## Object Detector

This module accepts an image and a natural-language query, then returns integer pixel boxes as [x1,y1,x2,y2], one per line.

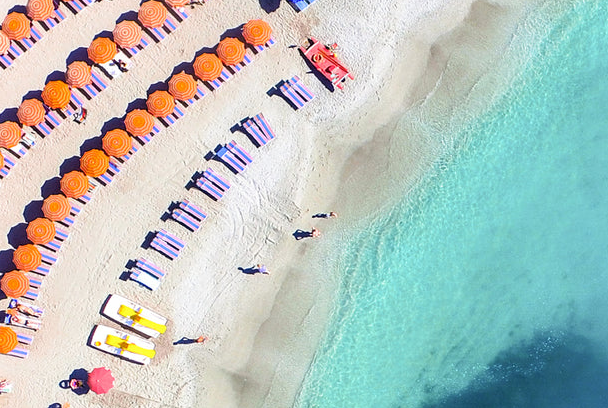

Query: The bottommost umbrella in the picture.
[85,366,113,394]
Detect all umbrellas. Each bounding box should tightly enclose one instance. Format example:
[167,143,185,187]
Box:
[140,0,169,30]
[0,120,24,150]
[0,11,29,40]
[26,0,55,21]
[15,99,45,129]
[88,36,119,65]
[81,149,111,180]
[167,72,198,102]
[41,195,70,225]
[125,106,154,136]
[0,324,19,353]
[25,215,54,245]
[162,0,188,9]
[12,243,40,272]
[41,80,71,111]
[113,20,142,50]
[59,169,89,197]
[243,18,272,48]
[145,88,175,118]
[85,366,113,394]
[192,53,221,82]
[102,127,132,156]
[65,60,96,89]
[0,271,29,301]
[216,37,247,67]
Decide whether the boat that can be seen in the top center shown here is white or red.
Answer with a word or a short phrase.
red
